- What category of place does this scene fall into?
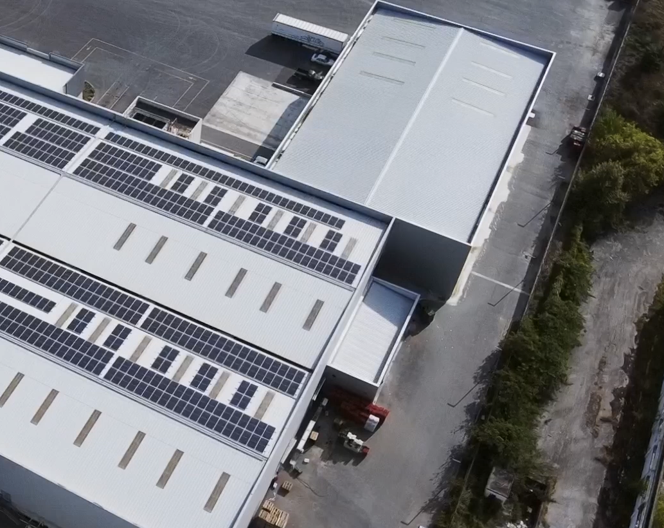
industrial area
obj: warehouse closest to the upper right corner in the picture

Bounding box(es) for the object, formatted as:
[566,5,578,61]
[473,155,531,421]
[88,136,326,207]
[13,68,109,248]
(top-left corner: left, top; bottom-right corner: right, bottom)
[262,0,557,302]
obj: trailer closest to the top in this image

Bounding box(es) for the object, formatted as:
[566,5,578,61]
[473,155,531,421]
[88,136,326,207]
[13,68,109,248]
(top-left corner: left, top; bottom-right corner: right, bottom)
[270,13,347,56]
